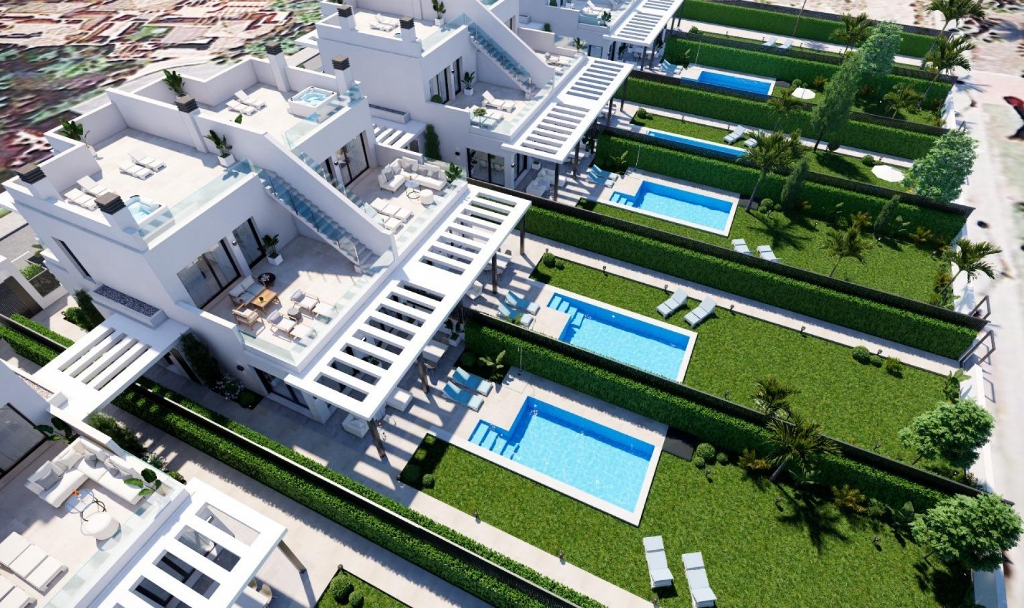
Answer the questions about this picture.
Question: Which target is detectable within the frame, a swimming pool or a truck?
swimming pool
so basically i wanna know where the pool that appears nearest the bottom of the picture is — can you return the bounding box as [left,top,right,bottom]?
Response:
[429,390,664,526]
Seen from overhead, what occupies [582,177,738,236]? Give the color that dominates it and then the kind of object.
blue swimming pool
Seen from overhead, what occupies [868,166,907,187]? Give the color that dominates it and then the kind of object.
white umbrella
